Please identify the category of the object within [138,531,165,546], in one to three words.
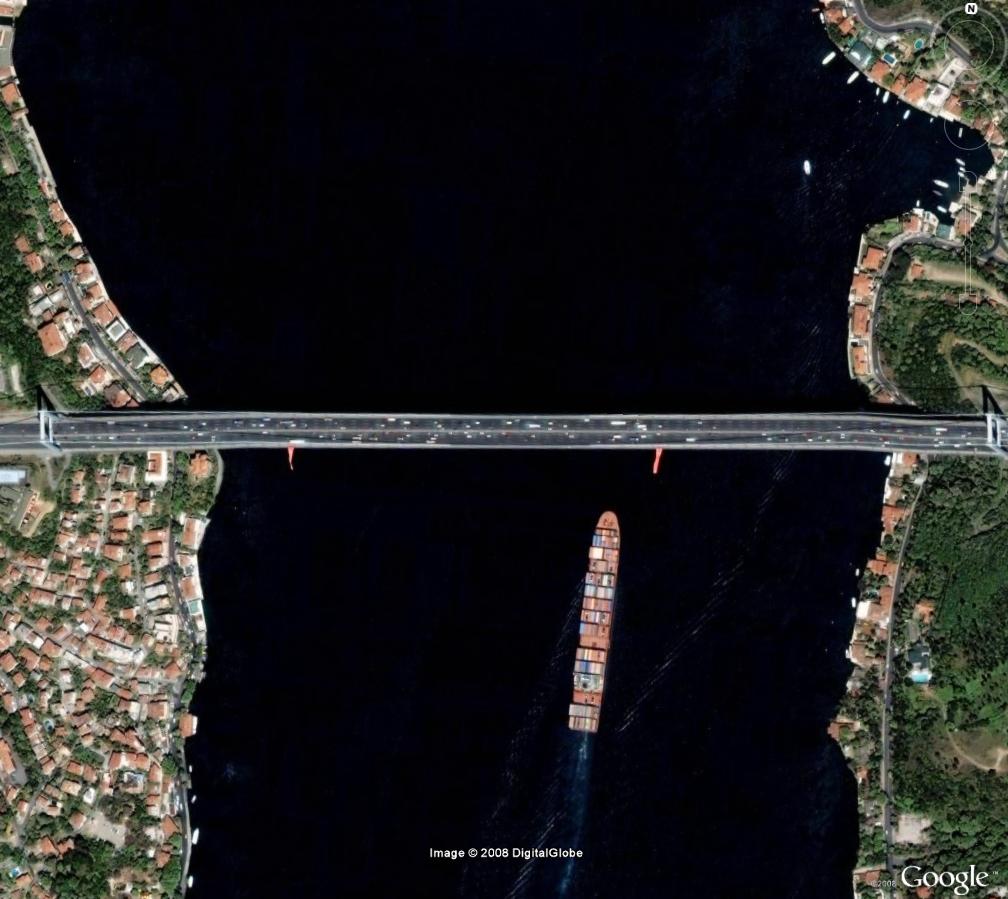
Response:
house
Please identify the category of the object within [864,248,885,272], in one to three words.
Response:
house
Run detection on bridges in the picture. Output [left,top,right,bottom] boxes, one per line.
[0,410,1008,463]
